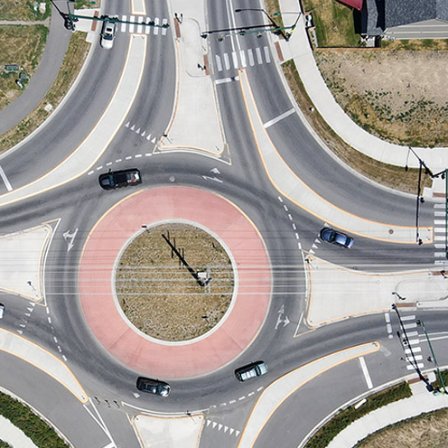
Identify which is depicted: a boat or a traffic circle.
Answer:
traffic circle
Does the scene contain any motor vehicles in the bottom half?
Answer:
Yes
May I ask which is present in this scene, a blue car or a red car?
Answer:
blue car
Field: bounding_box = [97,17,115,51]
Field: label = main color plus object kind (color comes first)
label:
white car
